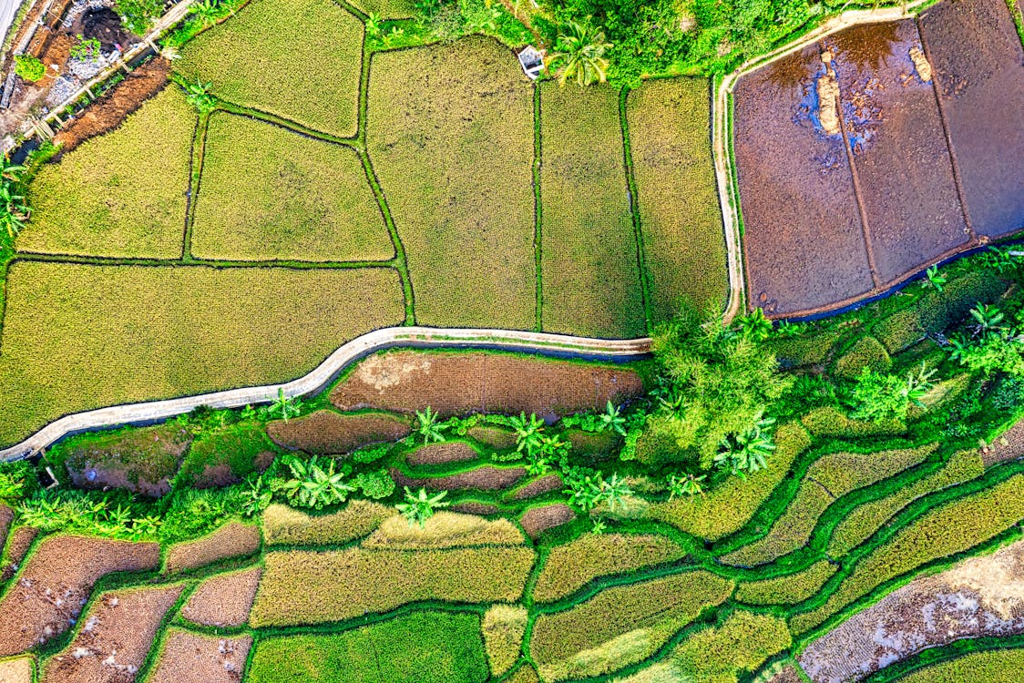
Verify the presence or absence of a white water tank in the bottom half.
No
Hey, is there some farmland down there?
Yes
